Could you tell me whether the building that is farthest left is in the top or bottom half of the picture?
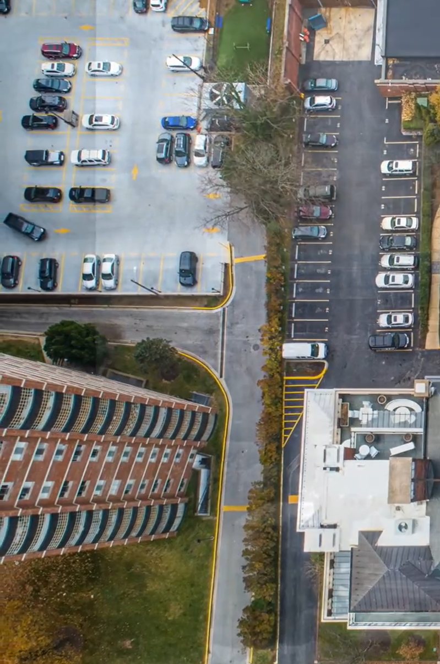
bottom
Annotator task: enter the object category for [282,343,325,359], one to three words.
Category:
vehicle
